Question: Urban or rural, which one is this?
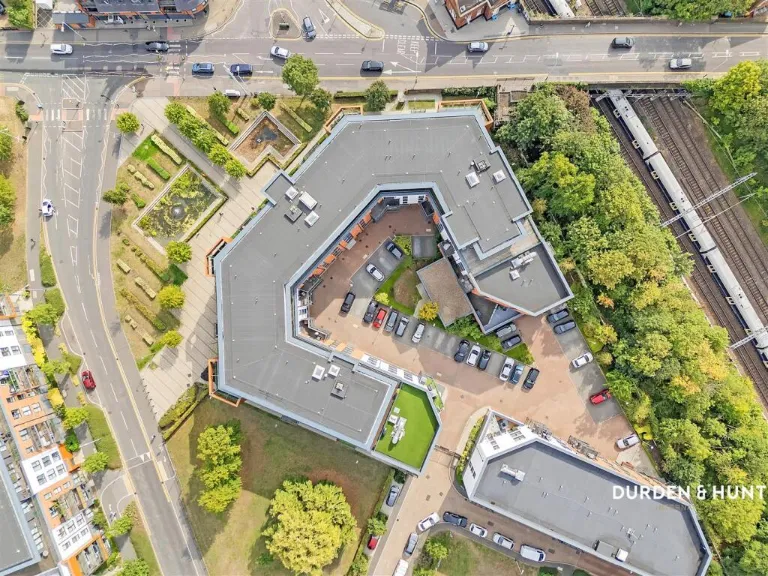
urban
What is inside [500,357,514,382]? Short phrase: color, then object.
white car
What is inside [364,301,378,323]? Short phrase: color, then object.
gray vehicle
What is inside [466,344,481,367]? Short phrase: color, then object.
white car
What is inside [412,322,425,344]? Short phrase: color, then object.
white vehicle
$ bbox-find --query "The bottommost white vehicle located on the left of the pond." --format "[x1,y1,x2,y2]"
[40,197,54,219]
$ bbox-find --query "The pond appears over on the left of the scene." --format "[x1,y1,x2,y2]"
[132,165,226,252]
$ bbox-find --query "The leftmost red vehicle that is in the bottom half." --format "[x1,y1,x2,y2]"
[80,370,97,392]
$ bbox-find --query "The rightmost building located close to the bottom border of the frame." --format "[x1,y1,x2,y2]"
[464,409,711,576]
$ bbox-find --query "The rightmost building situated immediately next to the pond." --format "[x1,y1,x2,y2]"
[206,100,574,476]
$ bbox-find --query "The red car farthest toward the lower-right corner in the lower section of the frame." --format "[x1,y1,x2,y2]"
[589,388,612,405]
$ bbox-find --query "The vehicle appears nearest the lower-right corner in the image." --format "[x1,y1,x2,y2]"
[616,434,640,449]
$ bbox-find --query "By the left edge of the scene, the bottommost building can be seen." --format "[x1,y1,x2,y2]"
[0,284,122,576]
